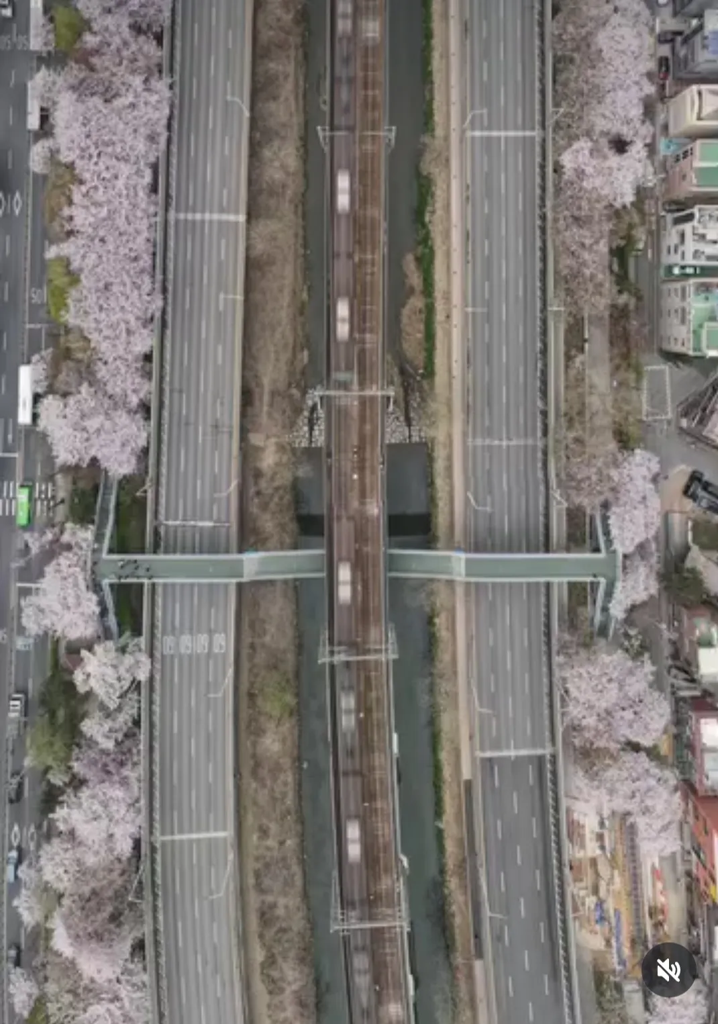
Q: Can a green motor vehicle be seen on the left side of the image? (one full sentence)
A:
Yes, you'll find a green motor vehicle on the left side of the image.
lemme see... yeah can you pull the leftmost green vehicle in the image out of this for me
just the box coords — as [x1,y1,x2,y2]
[18,481,37,524]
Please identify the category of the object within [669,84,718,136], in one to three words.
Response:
house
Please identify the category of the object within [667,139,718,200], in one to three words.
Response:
house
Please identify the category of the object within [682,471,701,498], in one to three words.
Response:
car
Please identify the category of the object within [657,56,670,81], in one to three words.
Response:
vehicle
